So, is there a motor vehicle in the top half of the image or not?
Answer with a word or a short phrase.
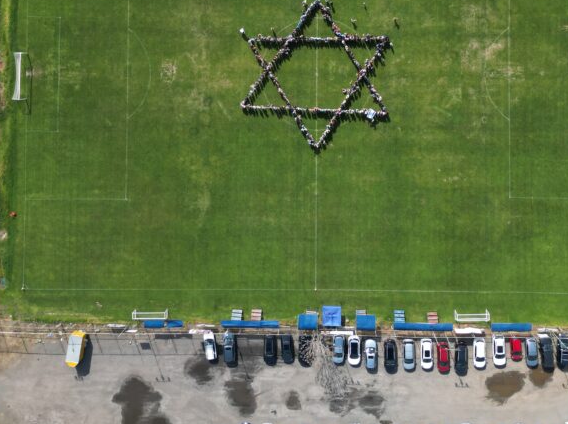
No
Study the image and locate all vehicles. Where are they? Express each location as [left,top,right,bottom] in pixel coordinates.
[280,334,295,365]
[473,339,488,367]
[62,331,85,370]
[332,335,346,365]
[363,338,378,371]
[384,340,399,372]
[455,343,470,375]
[511,337,525,363]
[402,338,417,370]
[298,335,313,367]
[493,335,509,367]
[202,332,217,361]
[420,338,435,370]
[347,337,361,365]
[540,336,558,371]
[526,337,541,368]
[262,335,276,367]
[558,335,568,371]
[437,341,451,372]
